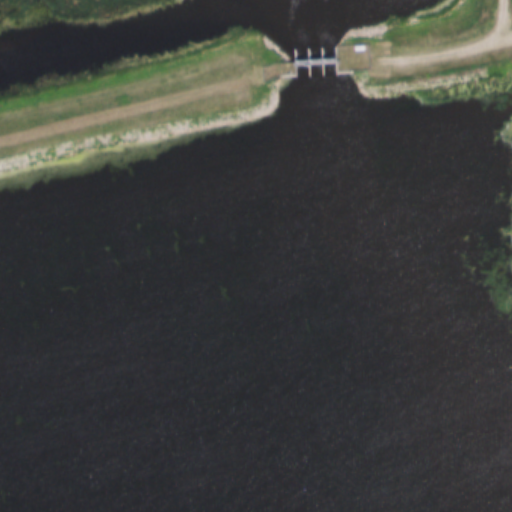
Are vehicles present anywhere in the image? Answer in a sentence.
No, no vehicle can be seen from above.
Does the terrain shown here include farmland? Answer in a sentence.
No, the picture contains no farmland.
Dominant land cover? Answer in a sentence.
Most of the picture is covered by water.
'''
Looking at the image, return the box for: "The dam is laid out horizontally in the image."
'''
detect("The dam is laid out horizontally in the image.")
[282,46,355,79]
